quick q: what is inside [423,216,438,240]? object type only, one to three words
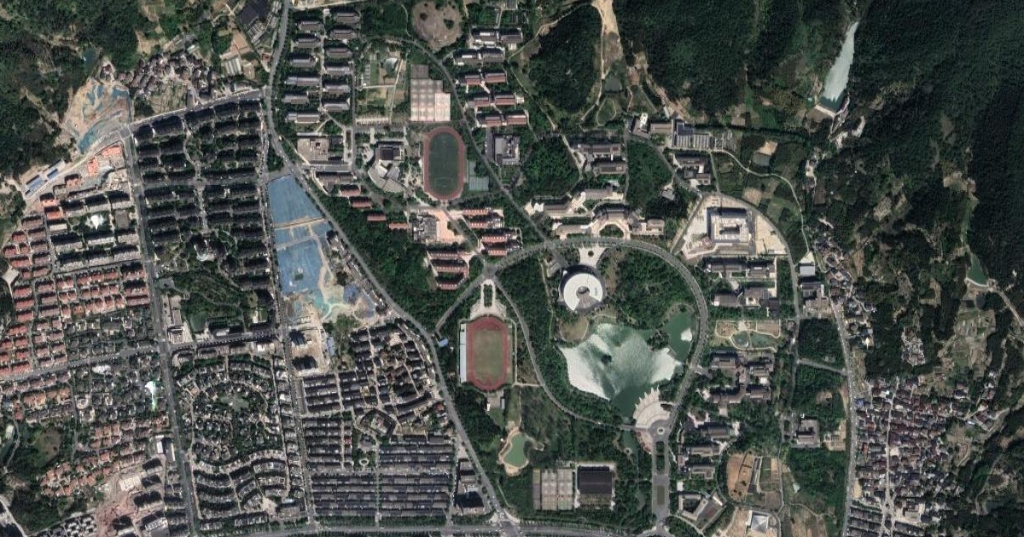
building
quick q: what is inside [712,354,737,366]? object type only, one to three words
building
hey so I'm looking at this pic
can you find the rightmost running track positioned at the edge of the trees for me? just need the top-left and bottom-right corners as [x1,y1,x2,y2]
[468,316,509,391]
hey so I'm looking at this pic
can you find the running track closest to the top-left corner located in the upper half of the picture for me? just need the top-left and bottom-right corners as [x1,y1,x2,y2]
[424,126,464,201]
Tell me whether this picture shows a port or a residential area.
residential area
